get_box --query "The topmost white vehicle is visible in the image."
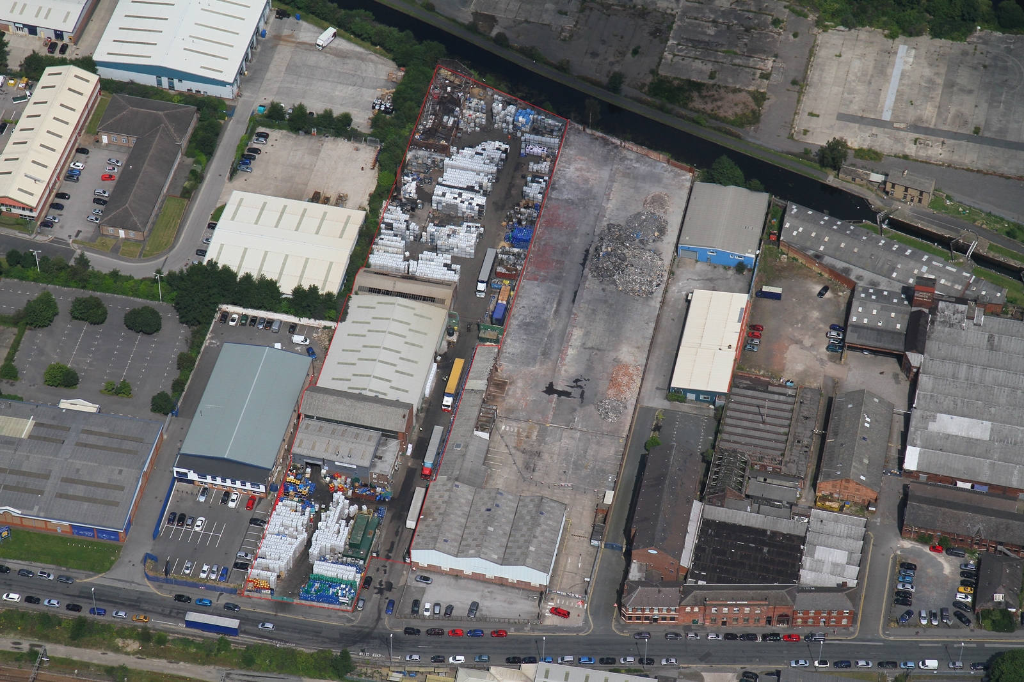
[315,27,335,51]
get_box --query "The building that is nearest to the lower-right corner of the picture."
[974,543,1024,619]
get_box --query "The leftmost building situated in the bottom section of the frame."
[0,392,165,542]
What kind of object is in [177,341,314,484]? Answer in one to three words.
warehouse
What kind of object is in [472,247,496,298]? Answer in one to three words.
truck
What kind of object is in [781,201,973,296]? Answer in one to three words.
shed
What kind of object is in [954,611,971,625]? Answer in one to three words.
car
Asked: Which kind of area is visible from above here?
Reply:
industrial area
